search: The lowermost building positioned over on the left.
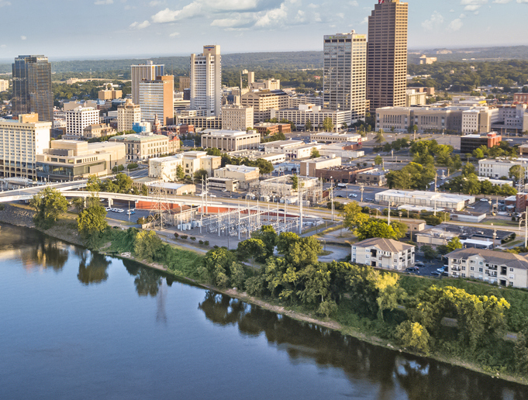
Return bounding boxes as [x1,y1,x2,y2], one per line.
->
[167,207,198,226]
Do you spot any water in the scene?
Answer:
Yes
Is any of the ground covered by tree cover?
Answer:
Yes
